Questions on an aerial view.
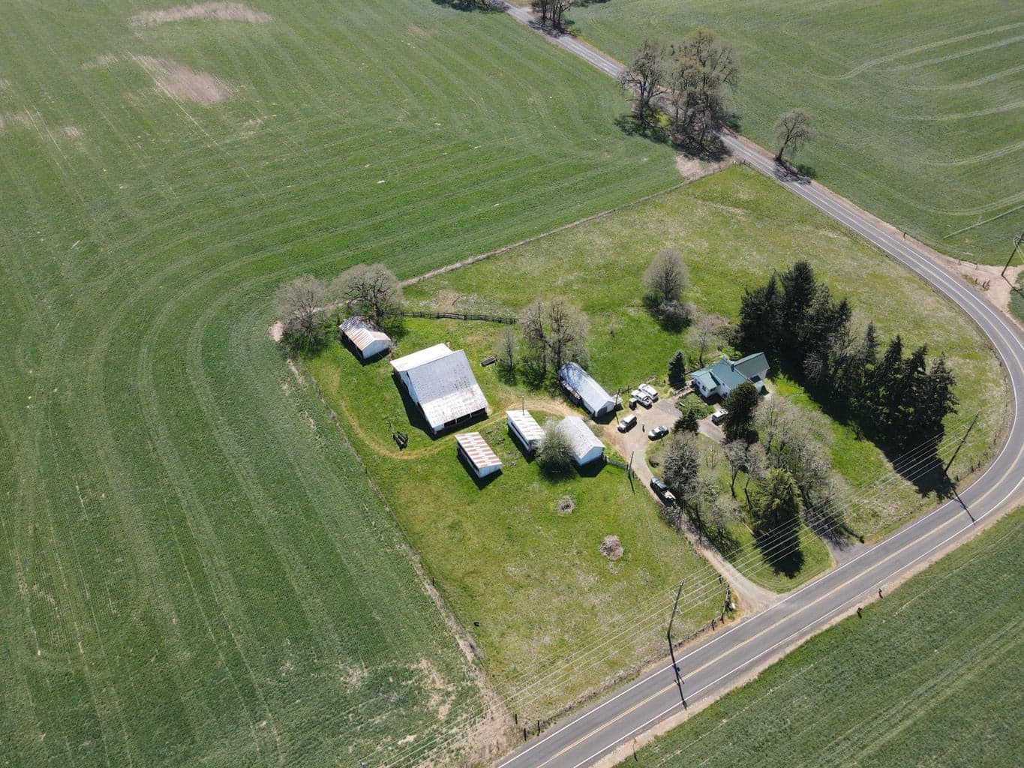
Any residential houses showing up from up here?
Yes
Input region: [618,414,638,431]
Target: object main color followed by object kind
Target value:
white vehicle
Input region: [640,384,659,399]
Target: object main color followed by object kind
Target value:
white car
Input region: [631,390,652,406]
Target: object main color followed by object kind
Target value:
white vehicle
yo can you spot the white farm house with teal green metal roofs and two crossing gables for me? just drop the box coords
[688,352,773,399]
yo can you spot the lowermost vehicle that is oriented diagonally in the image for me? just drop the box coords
[651,480,676,503]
